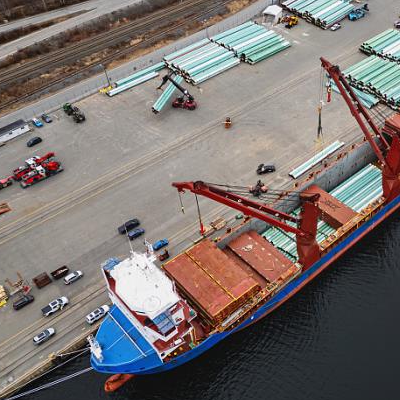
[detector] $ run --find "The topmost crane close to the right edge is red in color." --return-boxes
[312,59,400,200]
